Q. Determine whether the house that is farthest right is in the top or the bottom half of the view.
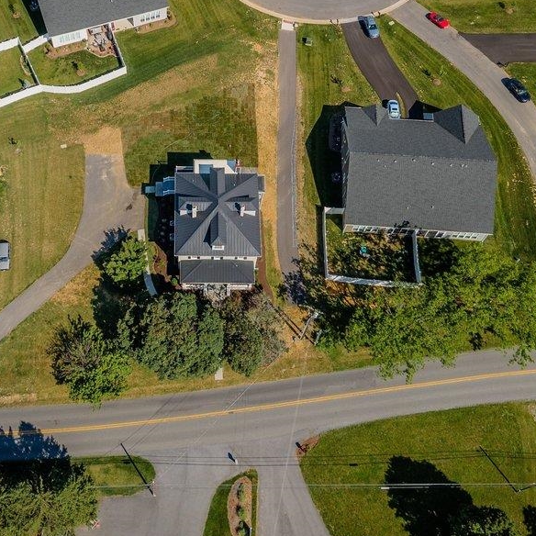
top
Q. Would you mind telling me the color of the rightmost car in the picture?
black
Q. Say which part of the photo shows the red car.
top right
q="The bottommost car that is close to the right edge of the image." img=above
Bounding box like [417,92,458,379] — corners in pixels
[505,77,527,103]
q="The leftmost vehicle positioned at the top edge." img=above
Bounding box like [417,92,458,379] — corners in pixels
[360,11,379,42]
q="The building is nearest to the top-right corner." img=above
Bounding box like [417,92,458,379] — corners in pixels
[334,102,498,242]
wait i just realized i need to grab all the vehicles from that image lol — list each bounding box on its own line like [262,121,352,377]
[505,77,527,103]
[360,11,379,42]
[387,95,401,117]
[0,241,9,269]
[424,9,450,32]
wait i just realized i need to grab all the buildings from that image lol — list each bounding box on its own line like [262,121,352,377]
[34,0,168,48]
[334,102,498,242]
[132,158,263,303]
